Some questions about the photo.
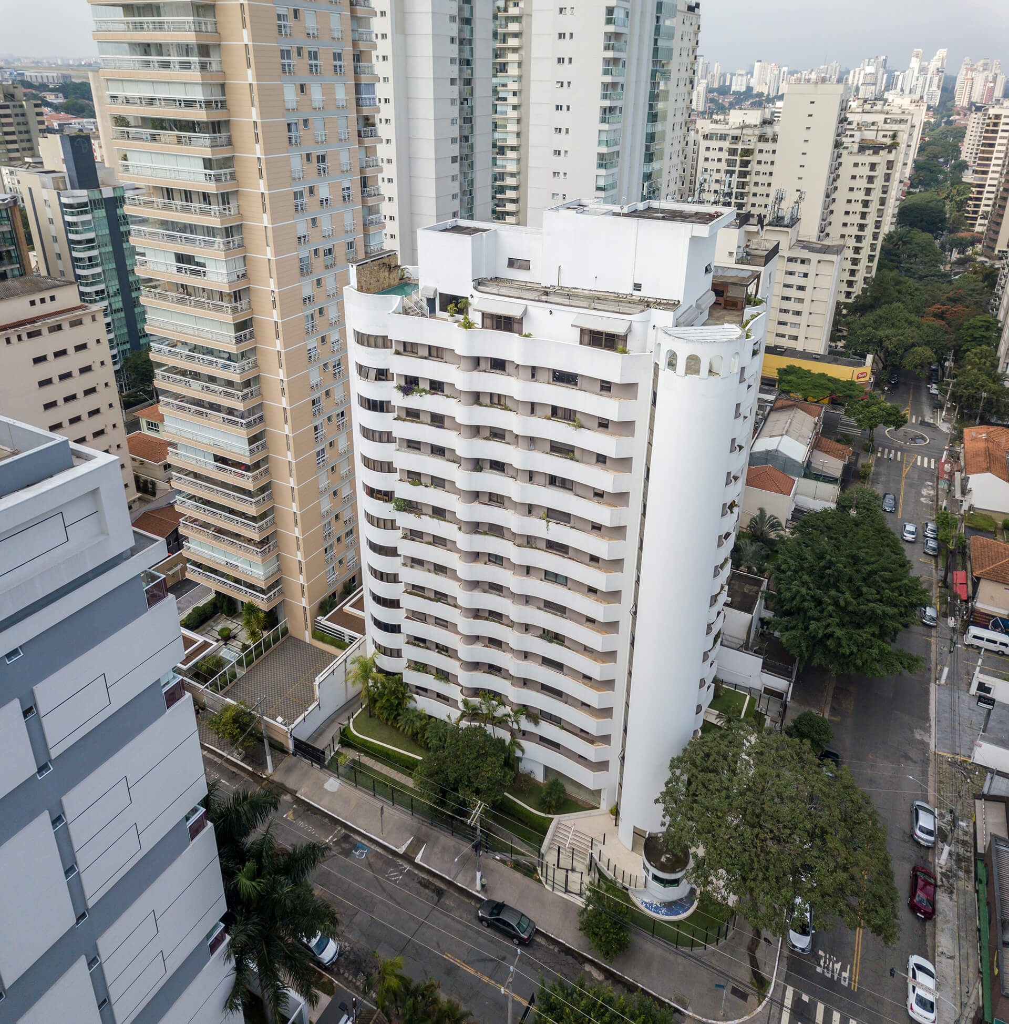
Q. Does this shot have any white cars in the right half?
Yes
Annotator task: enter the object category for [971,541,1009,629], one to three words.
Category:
house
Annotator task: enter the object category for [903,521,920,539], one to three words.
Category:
car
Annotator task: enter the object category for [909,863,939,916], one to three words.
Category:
car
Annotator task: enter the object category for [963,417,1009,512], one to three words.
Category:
house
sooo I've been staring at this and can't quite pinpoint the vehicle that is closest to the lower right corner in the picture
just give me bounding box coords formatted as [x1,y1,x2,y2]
[908,955,942,1021]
